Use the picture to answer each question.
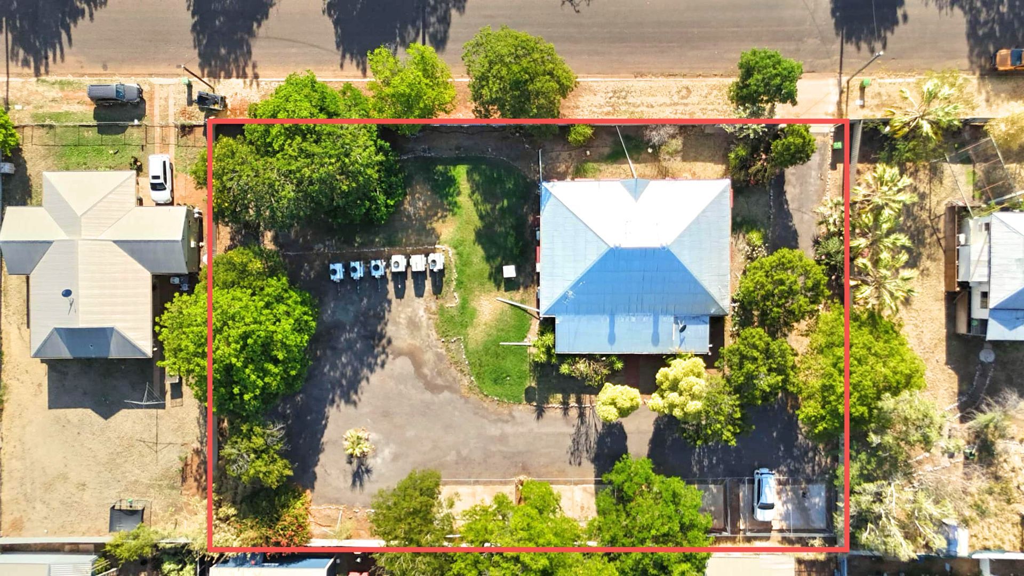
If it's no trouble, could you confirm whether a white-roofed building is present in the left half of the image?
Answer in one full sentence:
Yes, in the left half of the image there is a white-roofed building.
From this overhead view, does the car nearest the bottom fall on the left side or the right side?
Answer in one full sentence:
The car nearest the bottom appears in the right half of the scene.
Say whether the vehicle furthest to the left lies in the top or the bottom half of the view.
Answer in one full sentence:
The vehicle furthest to the left sits in the top half of the picture.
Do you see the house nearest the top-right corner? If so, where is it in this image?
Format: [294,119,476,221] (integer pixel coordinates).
[946,205,1024,342]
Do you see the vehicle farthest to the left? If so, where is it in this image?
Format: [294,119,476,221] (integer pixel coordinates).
[86,83,147,107]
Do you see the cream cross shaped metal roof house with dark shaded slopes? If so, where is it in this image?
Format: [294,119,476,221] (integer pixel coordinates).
[0,170,199,359]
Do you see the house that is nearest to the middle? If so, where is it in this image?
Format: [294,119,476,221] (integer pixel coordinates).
[536,178,731,355]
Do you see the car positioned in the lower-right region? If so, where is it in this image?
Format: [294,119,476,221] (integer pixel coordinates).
[750,467,775,519]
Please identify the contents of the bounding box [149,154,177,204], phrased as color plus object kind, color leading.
white car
